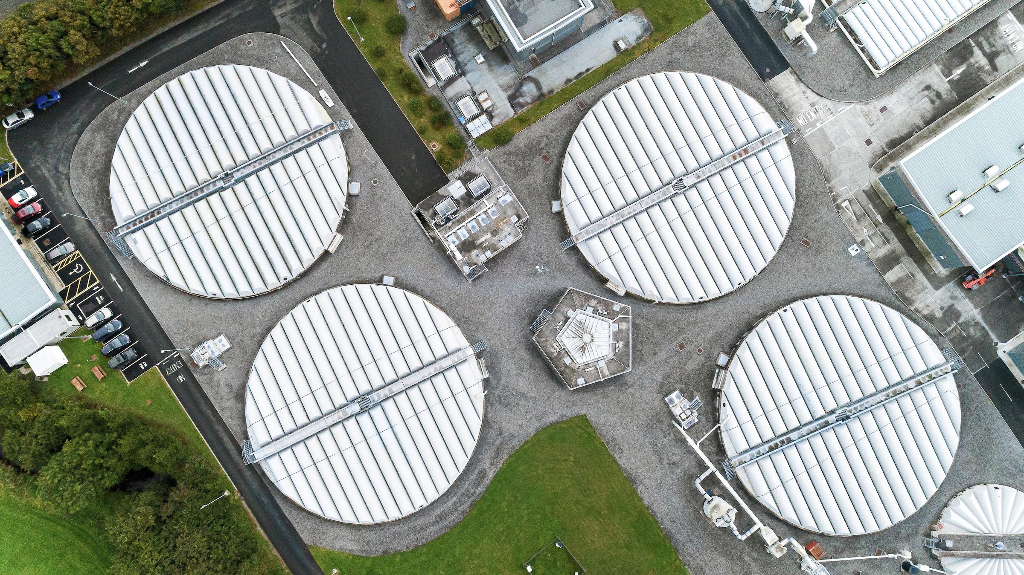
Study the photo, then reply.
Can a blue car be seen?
Yes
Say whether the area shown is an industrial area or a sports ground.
industrial area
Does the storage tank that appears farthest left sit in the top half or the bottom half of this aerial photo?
top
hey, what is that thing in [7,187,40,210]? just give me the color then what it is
white car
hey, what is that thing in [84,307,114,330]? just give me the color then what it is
white car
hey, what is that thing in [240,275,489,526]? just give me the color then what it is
white storage tank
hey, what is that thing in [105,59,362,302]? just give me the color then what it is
white storage tank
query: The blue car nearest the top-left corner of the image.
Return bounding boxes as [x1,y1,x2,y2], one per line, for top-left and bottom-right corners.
[34,90,64,110]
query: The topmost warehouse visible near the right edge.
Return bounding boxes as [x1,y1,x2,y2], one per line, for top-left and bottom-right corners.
[878,81,1024,274]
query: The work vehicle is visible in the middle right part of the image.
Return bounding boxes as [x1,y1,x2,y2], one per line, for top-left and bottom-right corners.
[959,260,1015,295]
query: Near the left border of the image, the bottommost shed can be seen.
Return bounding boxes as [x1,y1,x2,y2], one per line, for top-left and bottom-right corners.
[20,345,78,381]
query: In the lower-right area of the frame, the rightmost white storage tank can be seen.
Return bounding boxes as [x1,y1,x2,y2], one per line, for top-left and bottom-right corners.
[921,479,1024,575]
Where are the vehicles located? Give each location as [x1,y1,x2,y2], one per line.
[100,333,132,357]
[0,161,20,183]
[84,307,114,330]
[7,187,40,210]
[93,319,124,342]
[959,260,1015,295]
[21,216,53,238]
[45,241,77,263]
[34,90,64,110]
[2,108,36,129]
[106,346,140,371]
[11,202,44,225]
